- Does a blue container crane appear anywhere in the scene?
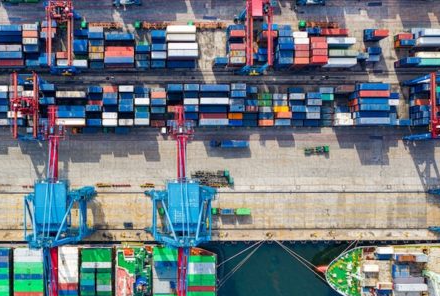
Yes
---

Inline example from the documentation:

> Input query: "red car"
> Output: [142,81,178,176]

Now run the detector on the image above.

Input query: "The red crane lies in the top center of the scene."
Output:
[235,0,278,79]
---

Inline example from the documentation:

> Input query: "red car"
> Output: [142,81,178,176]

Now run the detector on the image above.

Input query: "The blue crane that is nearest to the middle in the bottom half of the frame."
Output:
[140,103,221,296]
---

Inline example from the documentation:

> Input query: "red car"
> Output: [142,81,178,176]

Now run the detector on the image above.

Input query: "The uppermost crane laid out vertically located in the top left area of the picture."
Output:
[44,0,80,79]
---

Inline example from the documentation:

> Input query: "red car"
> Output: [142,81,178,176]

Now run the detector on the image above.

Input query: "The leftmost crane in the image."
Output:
[10,70,49,145]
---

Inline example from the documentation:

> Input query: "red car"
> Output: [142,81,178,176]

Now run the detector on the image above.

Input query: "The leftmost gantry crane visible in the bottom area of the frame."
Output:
[20,103,100,296]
